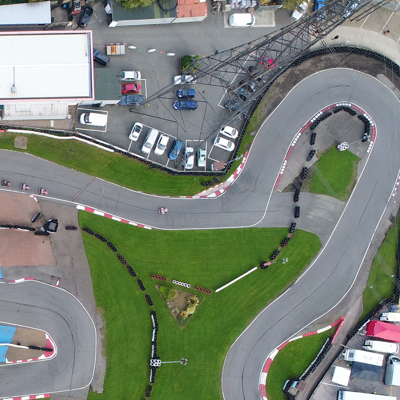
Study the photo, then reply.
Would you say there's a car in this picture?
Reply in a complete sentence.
Yes, the image includes a car.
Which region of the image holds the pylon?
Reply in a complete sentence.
The pylon sits in the top section of the image.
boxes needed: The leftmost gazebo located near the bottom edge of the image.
[327,365,352,386]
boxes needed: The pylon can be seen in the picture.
[127,0,357,169]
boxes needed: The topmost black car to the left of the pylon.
[75,7,90,29]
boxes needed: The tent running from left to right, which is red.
[359,320,400,342]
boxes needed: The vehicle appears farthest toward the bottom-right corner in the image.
[383,355,400,386]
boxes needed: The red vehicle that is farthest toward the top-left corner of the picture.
[121,82,141,95]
